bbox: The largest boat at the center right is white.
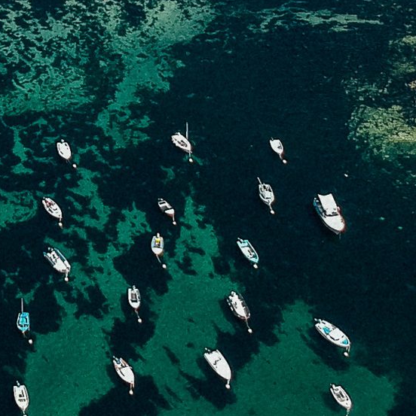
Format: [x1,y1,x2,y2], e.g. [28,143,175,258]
[311,185,343,237]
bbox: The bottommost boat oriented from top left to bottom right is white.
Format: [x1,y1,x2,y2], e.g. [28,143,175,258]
[327,378,352,416]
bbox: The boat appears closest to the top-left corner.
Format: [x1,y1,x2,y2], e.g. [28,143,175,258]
[56,136,73,164]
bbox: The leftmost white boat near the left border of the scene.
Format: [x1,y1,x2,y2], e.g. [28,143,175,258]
[12,379,31,415]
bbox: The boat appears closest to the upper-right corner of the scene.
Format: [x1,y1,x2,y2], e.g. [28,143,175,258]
[267,135,284,161]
